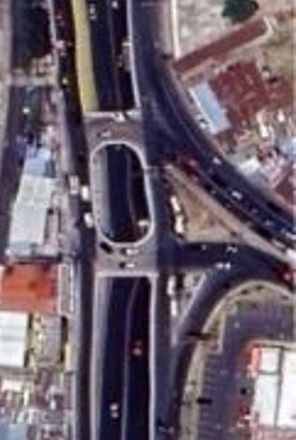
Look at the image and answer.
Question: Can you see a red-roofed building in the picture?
Yes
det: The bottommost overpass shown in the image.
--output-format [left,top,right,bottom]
[91,223,157,277]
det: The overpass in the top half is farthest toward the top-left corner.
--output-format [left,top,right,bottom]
[83,111,150,166]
